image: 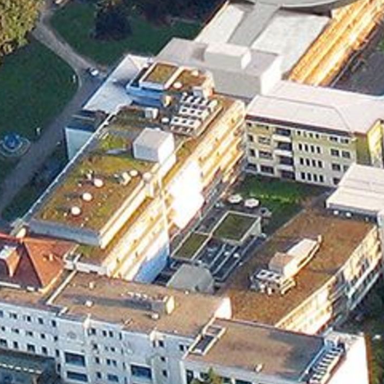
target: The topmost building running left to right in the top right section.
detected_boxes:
[183,0,384,84]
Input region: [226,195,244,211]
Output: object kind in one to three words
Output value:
umbrella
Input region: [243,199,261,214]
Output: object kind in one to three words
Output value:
umbrella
